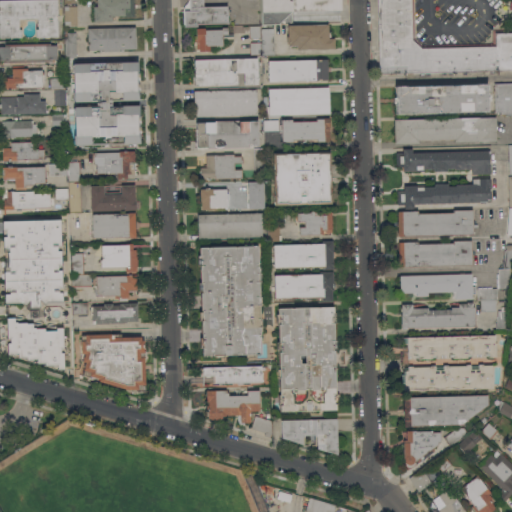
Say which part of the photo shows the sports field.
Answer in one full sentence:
The sports field is in the bottom left part of the image.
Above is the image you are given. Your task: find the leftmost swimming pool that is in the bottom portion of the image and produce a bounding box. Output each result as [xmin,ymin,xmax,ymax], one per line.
[49,306,64,322]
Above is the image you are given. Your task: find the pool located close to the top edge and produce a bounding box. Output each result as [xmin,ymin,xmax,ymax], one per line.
[20,20,38,38]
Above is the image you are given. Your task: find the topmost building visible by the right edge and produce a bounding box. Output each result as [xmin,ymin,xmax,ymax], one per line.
[380,0,512,73]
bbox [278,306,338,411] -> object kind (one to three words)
building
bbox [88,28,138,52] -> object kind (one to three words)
building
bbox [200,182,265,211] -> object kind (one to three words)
house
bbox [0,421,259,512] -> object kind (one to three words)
sports field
